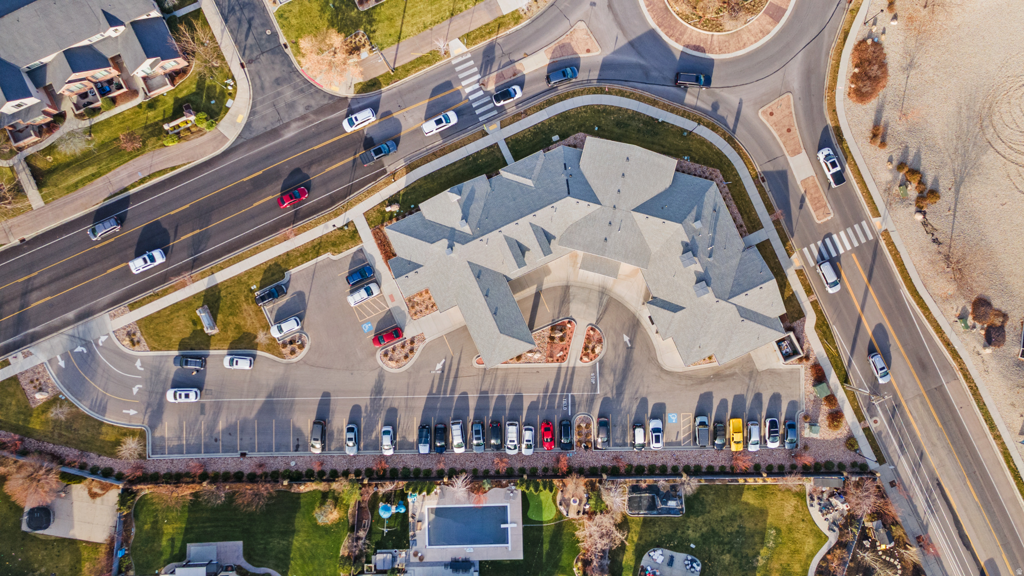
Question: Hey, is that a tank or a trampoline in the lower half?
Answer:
trampoline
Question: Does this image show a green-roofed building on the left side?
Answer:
No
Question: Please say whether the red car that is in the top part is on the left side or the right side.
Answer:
left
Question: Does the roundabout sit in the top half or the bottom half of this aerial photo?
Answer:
top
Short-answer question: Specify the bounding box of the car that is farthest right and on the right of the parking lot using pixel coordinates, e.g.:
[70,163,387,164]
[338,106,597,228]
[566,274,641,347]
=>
[867,352,890,383]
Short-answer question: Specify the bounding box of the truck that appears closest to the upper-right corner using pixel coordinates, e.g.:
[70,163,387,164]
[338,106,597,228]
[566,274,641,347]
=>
[818,147,846,188]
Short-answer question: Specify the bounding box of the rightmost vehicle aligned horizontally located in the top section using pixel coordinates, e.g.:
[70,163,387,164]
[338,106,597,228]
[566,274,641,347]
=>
[675,71,710,88]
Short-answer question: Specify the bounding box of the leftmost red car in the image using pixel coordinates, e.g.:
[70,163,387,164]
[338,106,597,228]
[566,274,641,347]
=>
[276,188,309,209]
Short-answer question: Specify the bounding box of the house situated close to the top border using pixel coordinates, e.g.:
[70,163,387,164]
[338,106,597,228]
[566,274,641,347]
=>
[0,0,183,143]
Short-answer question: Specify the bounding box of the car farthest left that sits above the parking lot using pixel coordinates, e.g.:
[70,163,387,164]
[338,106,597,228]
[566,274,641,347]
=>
[88,217,123,238]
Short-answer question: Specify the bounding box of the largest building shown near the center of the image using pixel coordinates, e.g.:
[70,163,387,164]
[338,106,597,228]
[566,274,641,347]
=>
[387,134,786,370]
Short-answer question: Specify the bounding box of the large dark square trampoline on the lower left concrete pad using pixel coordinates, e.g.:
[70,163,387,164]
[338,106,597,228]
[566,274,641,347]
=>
[19,506,54,535]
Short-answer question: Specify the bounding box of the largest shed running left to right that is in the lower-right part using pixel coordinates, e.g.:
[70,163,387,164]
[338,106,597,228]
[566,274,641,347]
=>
[809,474,844,488]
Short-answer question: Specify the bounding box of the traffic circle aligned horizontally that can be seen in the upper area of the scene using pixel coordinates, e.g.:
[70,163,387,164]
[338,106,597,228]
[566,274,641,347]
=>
[639,0,795,58]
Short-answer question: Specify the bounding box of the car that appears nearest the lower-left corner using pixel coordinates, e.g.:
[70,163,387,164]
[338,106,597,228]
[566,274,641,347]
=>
[166,388,200,403]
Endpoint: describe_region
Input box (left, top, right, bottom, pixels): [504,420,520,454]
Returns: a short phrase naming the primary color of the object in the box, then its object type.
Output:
white car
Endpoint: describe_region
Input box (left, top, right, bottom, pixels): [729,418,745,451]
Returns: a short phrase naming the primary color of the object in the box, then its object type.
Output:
yellow vehicle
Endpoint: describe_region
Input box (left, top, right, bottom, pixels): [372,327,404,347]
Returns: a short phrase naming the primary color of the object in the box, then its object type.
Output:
red car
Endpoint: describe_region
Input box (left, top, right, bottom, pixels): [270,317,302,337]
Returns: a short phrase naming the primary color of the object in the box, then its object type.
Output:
white car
